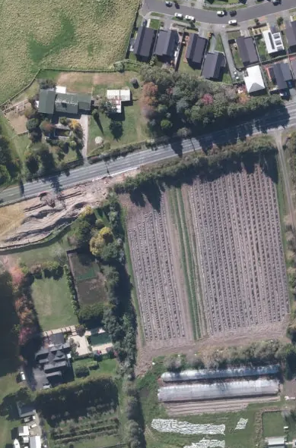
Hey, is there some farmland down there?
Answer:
Yes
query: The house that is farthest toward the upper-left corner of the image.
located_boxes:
[39,87,92,114]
